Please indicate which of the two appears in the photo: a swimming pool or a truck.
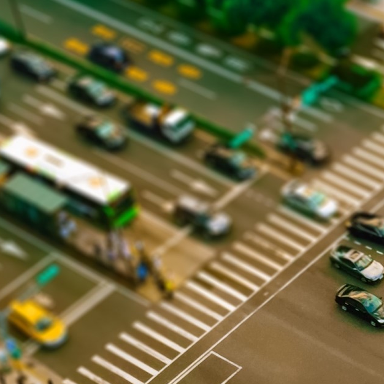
truck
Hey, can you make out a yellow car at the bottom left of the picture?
Yes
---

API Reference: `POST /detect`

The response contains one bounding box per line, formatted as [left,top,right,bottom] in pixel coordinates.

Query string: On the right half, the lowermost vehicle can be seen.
[329,285,384,332]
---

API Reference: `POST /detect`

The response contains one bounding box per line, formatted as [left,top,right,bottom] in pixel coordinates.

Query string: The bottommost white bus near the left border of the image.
[0,132,143,233]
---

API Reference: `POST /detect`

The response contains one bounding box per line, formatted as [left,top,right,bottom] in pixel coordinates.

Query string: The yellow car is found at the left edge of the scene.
[0,297,69,348]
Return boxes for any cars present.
[169,191,236,239]
[0,297,69,348]
[276,183,341,222]
[198,143,260,182]
[345,213,384,248]
[329,285,384,332]
[83,39,135,72]
[62,74,120,108]
[323,244,384,290]
[70,116,131,153]
[5,49,59,84]
[271,128,332,166]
